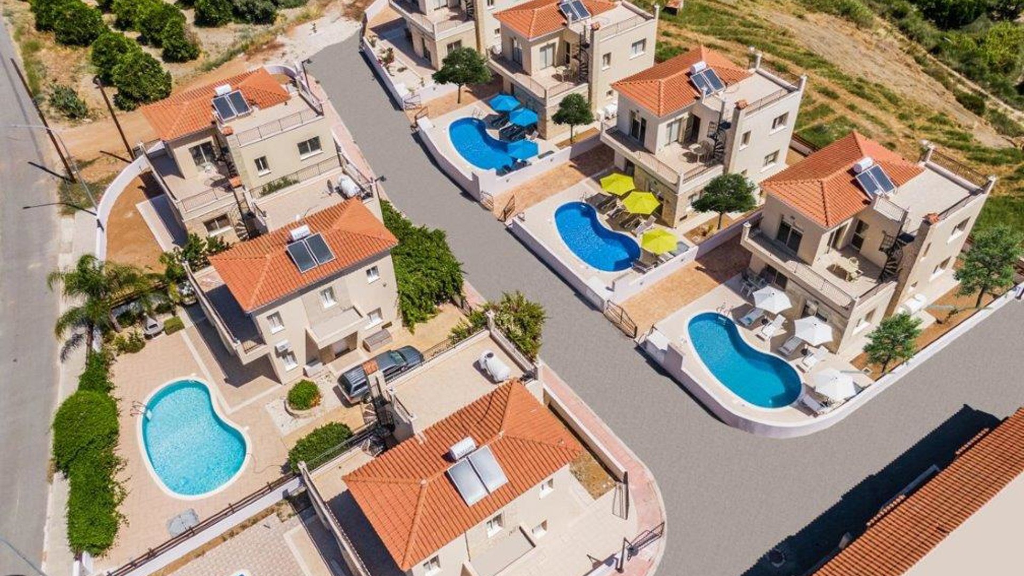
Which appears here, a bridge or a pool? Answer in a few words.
pool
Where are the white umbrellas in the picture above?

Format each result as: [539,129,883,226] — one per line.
[752,290,792,331]
[809,371,858,417]
[790,318,835,364]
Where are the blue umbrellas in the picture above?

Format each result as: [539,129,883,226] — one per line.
[510,113,539,147]
[490,99,518,123]
[505,146,538,182]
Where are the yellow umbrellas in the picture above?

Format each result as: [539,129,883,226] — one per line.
[641,233,676,262]
[622,196,660,231]
[602,177,632,202]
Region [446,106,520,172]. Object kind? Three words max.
swimming pool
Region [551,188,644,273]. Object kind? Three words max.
swimming pool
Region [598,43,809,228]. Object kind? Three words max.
house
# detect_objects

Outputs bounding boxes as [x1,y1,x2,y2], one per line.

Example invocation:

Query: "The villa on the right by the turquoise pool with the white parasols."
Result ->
[738,129,1000,354]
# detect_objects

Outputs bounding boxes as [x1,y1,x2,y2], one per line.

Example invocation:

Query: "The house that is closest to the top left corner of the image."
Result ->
[138,65,335,240]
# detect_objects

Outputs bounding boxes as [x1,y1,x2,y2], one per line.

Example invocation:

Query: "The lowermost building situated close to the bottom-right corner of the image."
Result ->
[797,399,1024,576]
